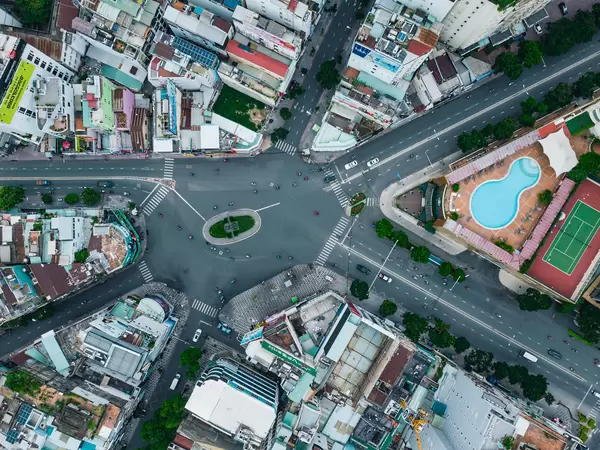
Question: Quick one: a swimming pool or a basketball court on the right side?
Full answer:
You can see a swimming pool on the right side.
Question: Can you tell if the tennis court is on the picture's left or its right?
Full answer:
The tennis court appears in the right half of the scene.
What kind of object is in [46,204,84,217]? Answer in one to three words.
building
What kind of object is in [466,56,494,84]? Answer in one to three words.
building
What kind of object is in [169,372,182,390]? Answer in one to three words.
vehicle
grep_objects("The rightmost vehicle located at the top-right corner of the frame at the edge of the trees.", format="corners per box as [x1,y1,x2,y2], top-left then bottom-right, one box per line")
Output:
[558,1,570,16]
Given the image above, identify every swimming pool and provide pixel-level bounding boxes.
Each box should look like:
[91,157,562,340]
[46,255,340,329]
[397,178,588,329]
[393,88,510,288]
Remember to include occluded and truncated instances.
[468,155,544,231]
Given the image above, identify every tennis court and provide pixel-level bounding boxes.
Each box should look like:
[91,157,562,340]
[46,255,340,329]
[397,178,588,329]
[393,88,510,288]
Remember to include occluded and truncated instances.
[524,178,600,301]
